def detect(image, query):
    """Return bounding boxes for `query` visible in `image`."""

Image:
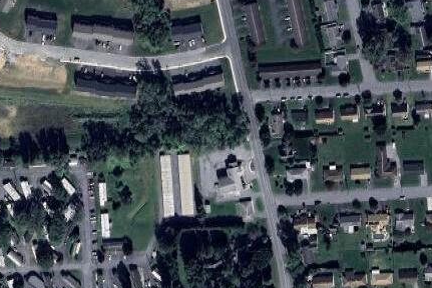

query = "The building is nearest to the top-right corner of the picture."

[405,0,424,22]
